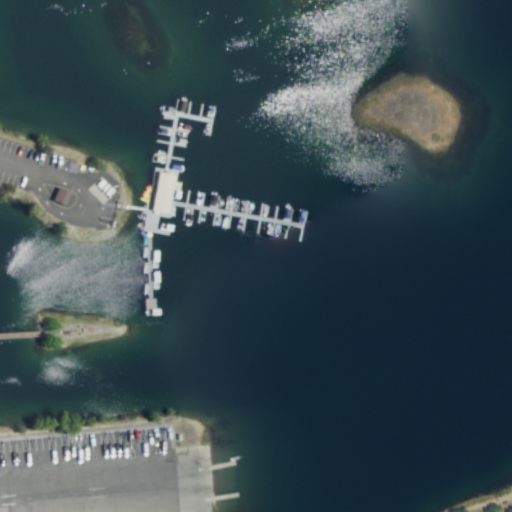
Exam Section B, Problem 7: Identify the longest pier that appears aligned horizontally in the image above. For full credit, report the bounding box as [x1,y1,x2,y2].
[174,190,308,241]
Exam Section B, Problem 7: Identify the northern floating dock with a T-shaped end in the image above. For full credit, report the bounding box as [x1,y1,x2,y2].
[156,99,216,172]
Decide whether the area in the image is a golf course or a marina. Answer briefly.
marina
